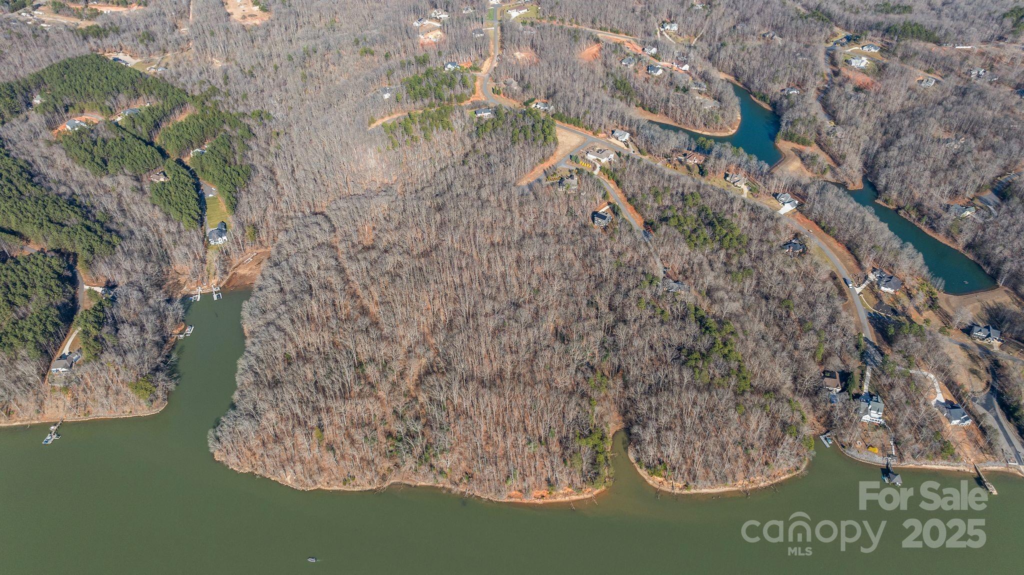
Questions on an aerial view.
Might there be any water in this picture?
Yes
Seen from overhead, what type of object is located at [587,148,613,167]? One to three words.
house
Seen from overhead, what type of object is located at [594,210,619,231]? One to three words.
house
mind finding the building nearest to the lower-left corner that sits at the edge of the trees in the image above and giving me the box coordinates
[51,354,86,381]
